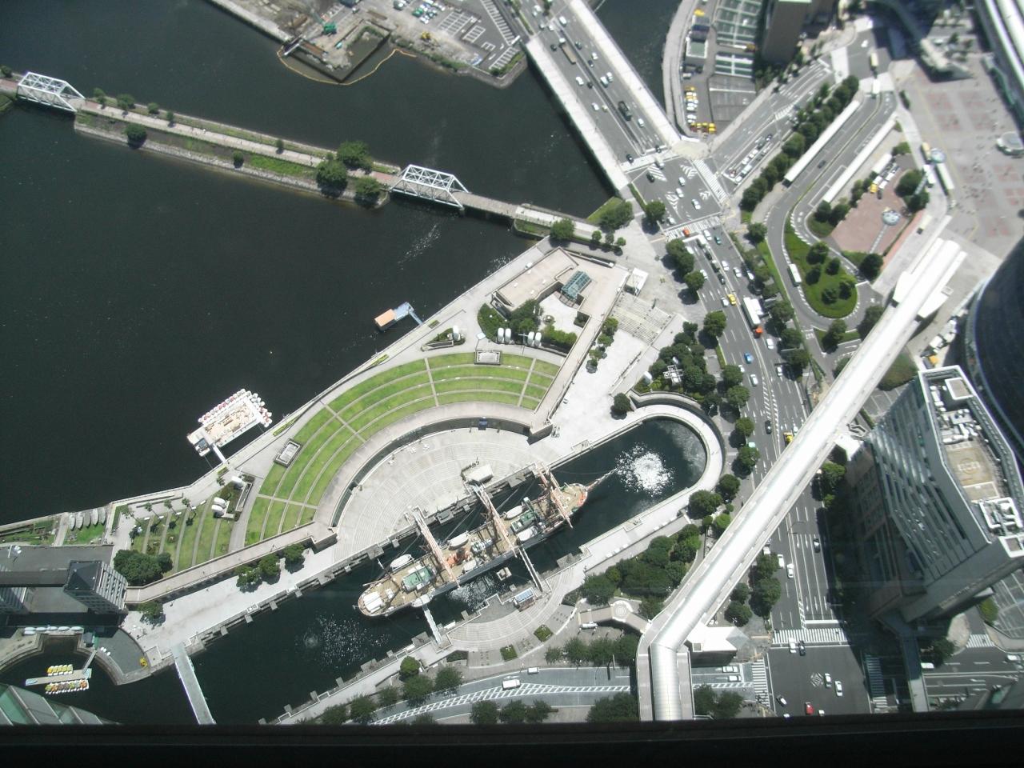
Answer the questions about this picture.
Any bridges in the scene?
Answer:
Yes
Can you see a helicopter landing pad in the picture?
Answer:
Yes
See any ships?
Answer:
Yes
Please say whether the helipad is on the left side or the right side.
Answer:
right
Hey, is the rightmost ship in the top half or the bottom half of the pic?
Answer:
bottom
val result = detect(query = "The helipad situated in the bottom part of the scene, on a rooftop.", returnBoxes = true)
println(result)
[943,445,997,506]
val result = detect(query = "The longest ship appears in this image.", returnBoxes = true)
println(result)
[353,459,616,614]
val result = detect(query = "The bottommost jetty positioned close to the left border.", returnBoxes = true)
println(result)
[25,655,95,686]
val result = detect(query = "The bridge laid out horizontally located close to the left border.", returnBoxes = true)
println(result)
[12,75,86,114]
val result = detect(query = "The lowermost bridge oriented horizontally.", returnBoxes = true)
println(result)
[577,599,648,635]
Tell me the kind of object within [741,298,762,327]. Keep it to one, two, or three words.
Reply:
bus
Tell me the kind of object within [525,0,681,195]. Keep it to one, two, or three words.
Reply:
bridge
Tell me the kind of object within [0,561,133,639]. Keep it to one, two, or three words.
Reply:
building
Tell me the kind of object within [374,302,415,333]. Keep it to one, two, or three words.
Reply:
pier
